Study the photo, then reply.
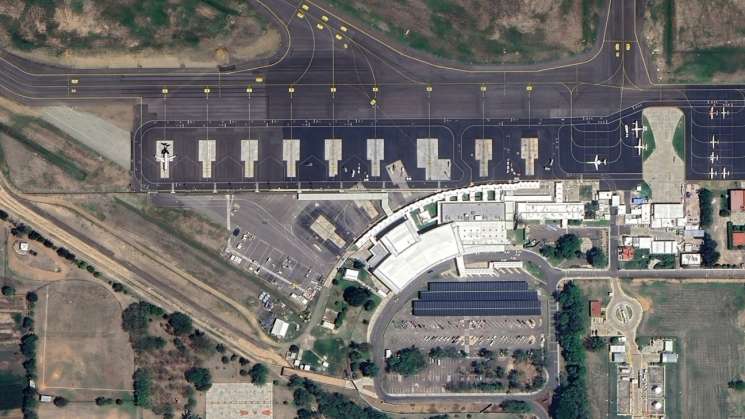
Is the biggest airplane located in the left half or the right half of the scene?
left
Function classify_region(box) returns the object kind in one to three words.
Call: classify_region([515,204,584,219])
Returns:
building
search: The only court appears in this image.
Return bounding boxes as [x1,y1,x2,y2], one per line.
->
[207,383,273,419]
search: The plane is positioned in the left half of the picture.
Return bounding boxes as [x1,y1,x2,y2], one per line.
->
[156,142,177,170]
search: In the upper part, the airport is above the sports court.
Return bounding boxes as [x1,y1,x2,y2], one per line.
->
[0,0,745,299]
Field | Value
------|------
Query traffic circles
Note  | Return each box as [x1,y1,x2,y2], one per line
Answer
[606,277,643,350]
